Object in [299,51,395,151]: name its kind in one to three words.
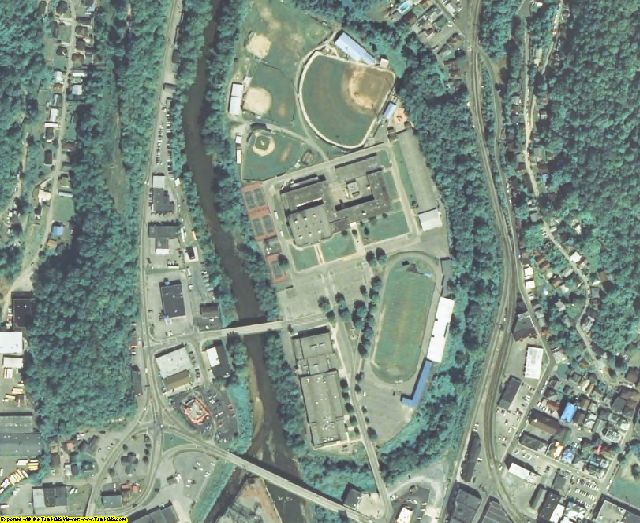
baseball field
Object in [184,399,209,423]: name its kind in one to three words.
building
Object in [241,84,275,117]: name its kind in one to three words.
baseball field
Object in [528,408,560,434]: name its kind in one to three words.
building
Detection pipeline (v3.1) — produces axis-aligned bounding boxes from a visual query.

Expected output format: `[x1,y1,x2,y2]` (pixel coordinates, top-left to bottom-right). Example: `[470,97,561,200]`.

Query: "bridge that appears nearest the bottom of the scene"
[198,437,381,523]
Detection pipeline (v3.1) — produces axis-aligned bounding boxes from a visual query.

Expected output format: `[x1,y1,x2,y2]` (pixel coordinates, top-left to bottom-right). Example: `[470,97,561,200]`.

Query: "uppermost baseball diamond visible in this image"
[243,29,274,59]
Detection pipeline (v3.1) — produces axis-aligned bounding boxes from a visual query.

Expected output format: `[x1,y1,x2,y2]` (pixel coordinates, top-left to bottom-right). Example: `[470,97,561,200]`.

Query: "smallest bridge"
[199,318,298,339]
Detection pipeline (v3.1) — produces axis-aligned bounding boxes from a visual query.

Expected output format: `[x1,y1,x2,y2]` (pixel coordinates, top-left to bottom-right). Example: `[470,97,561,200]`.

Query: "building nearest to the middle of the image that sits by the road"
[283,158,396,245]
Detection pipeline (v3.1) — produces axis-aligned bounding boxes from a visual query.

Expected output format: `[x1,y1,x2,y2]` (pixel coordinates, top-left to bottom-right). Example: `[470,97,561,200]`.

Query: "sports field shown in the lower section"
[371,249,439,388]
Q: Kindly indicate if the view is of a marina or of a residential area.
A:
residential area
